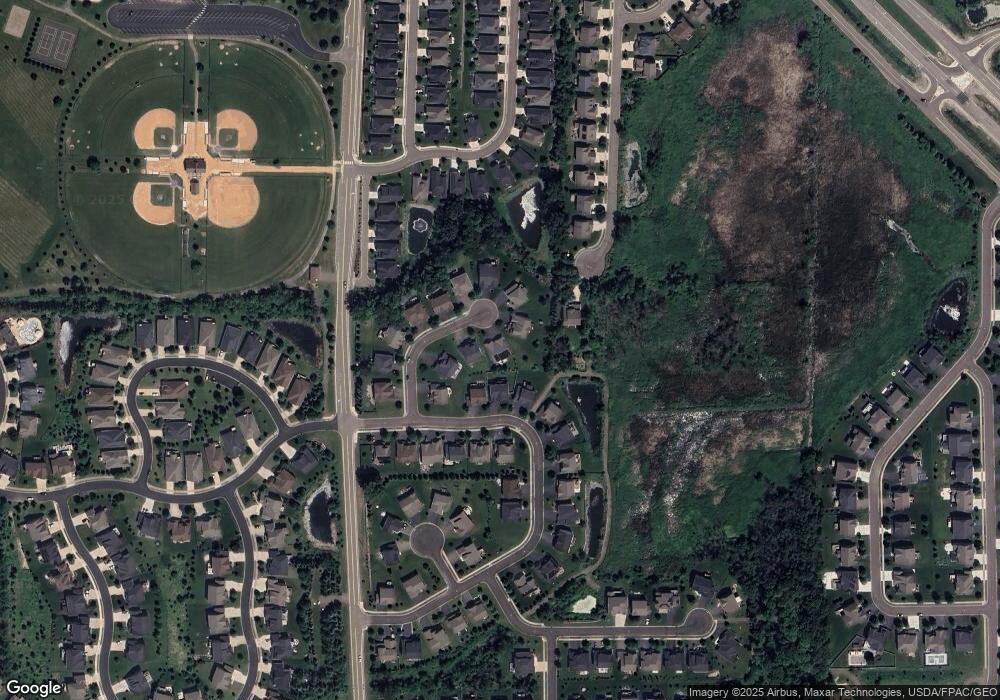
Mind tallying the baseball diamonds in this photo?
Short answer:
4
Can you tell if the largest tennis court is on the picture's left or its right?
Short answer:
left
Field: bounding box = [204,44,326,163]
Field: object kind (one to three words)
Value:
baseball field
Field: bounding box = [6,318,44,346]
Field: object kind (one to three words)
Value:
swimming pool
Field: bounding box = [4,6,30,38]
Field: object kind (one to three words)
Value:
sports court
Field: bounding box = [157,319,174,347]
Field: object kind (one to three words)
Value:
house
